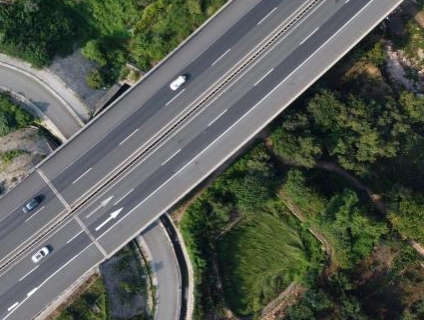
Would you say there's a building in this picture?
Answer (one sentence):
No, the photo shows no building.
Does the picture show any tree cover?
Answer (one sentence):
Yes, some tree cover is visible.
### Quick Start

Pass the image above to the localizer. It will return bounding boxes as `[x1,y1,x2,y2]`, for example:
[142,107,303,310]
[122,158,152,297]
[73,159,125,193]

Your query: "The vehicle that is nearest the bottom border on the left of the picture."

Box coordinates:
[30,245,49,263]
